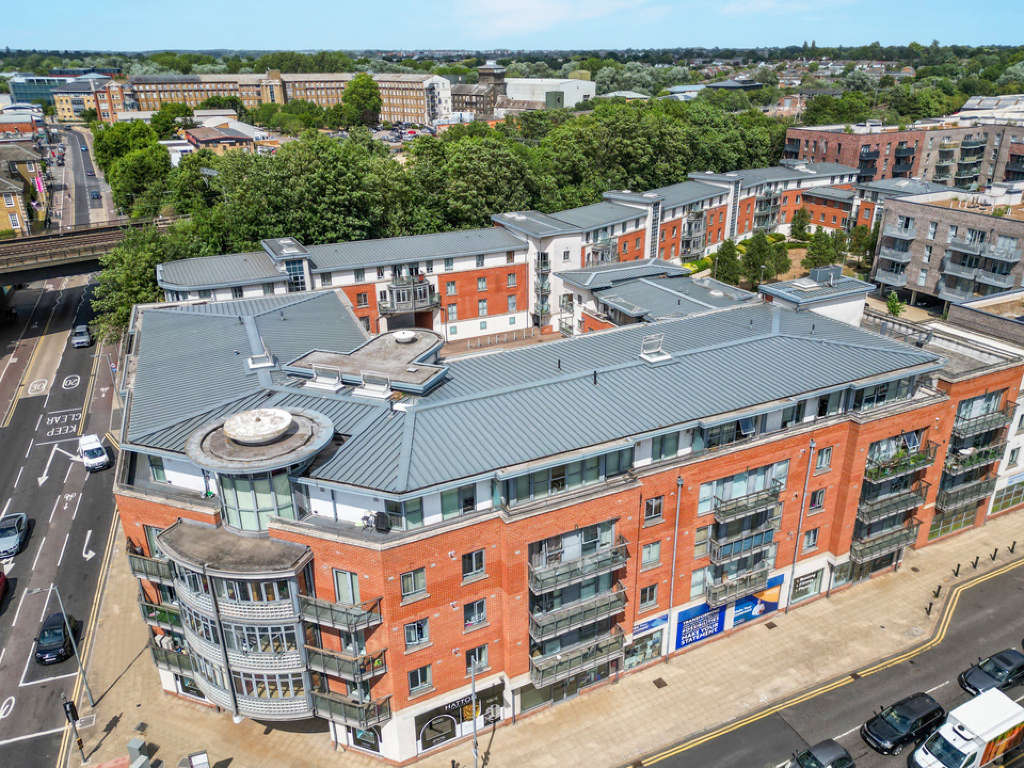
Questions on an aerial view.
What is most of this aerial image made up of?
buildings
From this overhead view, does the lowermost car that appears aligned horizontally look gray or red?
gray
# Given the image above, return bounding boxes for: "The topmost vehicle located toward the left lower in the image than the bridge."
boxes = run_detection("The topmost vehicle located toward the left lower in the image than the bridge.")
[70,324,90,345]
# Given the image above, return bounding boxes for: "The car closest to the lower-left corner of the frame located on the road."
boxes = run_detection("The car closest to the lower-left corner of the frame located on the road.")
[36,607,80,663]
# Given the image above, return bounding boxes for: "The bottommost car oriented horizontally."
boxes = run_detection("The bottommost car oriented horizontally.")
[787,732,868,768]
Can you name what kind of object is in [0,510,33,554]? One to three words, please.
car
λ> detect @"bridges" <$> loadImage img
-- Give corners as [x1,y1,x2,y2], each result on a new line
[0,220,166,287]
